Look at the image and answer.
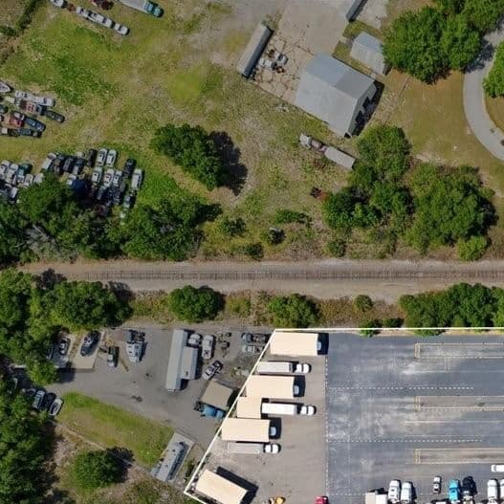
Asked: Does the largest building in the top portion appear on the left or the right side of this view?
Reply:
right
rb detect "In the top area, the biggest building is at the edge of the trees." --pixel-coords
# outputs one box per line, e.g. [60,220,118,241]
[293,52,377,143]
